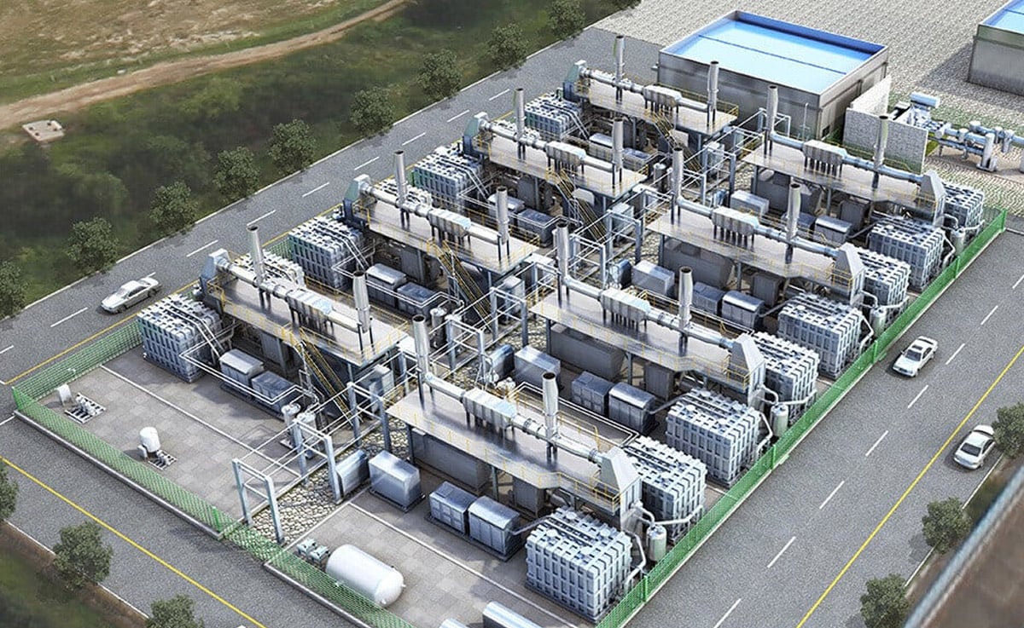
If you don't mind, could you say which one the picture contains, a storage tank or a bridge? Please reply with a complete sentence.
The image shows a storage tank.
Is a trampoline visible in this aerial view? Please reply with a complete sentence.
No, I can see no trampoline in this picture.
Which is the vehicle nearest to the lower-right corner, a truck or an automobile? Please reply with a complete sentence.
The vehicle nearest to the lower-right corner appears to be an automobile.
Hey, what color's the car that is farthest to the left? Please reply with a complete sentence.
The car that is farthest to the left looks white in the image.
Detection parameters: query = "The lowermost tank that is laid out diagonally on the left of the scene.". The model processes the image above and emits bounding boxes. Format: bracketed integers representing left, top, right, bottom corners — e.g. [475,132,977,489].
[326,543,409,610]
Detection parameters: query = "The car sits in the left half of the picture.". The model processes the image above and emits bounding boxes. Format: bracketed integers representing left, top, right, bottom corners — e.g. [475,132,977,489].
[103,270,169,309]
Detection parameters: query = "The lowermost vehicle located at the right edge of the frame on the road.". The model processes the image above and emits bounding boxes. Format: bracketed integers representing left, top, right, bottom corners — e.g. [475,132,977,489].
[946,422,995,472]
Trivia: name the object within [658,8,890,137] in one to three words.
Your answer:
building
